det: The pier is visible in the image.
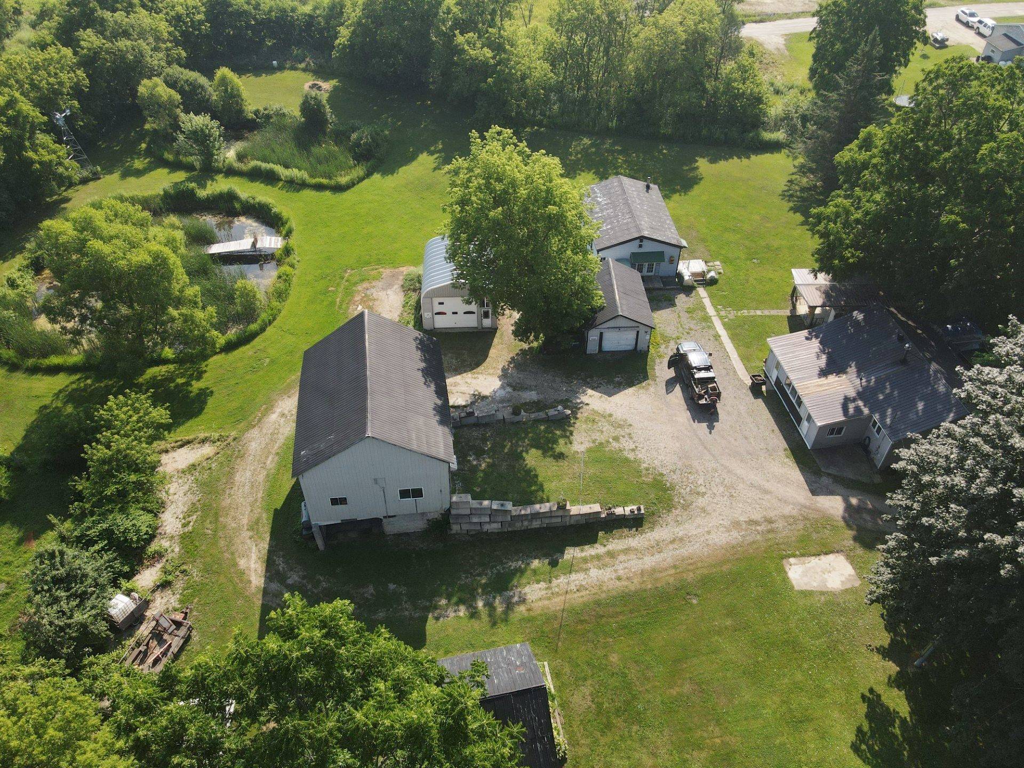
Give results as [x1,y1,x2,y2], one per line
[206,238,284,255]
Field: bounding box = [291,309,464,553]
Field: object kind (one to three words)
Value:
barn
